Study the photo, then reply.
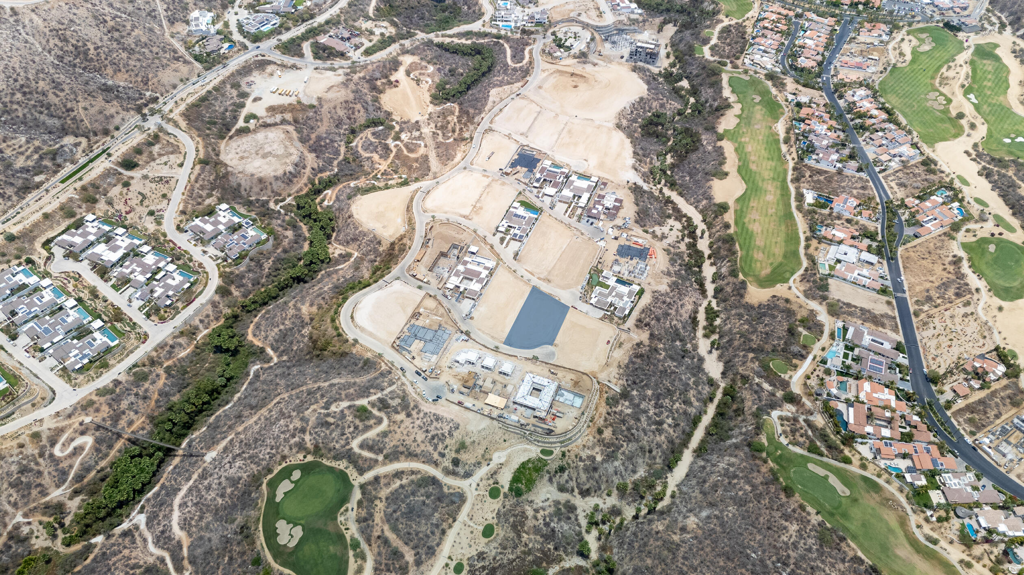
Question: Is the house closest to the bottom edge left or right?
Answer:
right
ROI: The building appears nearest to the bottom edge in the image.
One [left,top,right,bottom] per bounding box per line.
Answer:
[948,505,1024,541]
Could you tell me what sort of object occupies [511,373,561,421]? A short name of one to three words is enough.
building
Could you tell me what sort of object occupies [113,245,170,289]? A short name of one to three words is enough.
house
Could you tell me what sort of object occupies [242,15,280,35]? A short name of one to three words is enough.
house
